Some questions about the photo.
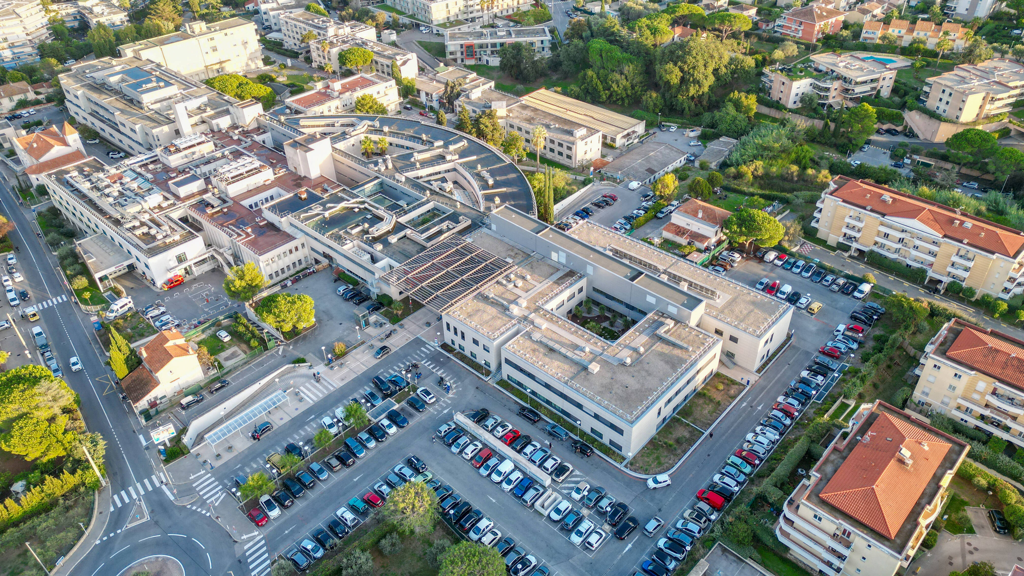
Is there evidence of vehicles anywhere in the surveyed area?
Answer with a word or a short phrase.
Yes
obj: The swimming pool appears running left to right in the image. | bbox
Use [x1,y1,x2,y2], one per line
[841,48,915,67]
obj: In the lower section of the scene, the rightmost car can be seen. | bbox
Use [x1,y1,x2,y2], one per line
[985,509,1007,536]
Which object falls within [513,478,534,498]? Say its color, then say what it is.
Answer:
blue car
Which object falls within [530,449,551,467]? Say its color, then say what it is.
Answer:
blue car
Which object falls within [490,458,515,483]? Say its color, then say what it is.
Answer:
white vehicle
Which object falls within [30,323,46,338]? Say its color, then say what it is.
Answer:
white vehicle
